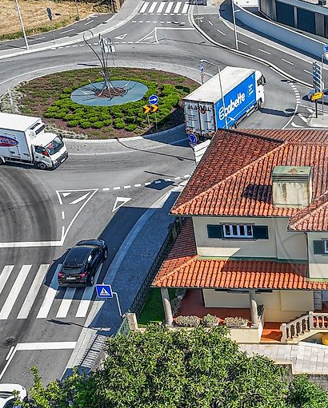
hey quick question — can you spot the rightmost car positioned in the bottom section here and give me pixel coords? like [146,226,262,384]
[58,239,112,288]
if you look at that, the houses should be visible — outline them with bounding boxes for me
[262,0,328,43]
[151,128,328,343]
